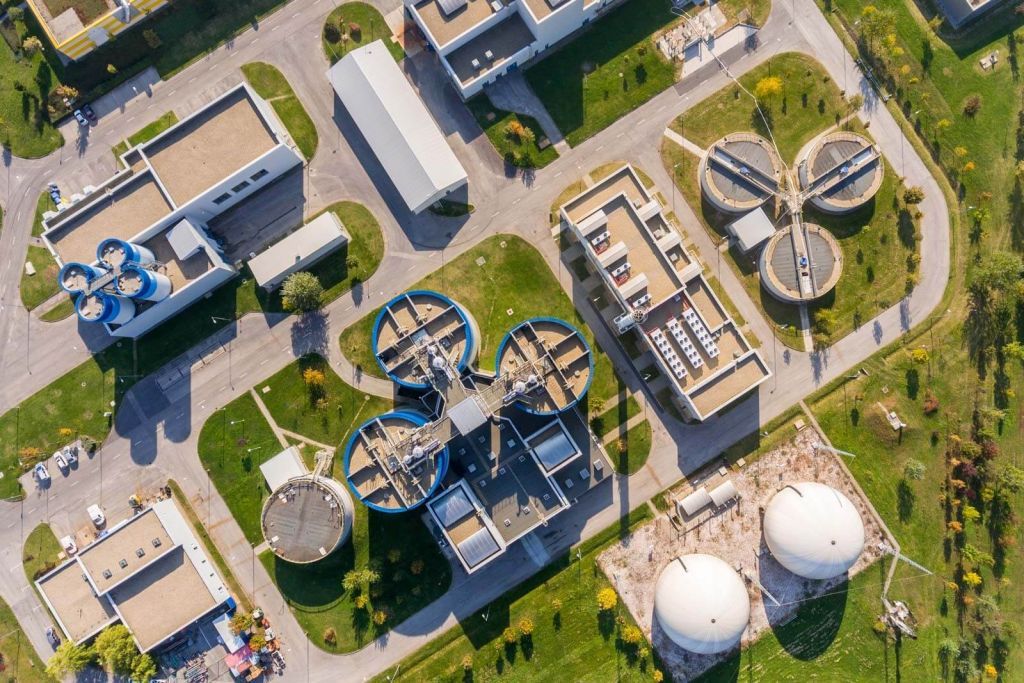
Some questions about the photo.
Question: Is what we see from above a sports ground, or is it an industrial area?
industrial area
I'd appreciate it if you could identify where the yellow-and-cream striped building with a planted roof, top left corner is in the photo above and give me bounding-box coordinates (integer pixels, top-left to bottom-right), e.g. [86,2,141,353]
[30,0,182,64]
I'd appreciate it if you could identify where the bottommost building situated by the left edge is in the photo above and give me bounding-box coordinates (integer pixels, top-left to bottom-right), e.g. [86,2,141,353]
[36,498,239,651]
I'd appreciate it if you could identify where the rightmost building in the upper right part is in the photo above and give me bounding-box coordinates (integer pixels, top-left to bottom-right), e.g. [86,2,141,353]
[933,0,997,29]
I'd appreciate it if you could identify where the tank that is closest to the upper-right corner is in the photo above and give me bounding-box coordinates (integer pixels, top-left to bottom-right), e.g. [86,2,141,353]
[796,131,886,217]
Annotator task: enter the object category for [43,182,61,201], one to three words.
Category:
vehicle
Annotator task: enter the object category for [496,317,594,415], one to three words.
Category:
storage tank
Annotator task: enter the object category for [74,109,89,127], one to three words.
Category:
car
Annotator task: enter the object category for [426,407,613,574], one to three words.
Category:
building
